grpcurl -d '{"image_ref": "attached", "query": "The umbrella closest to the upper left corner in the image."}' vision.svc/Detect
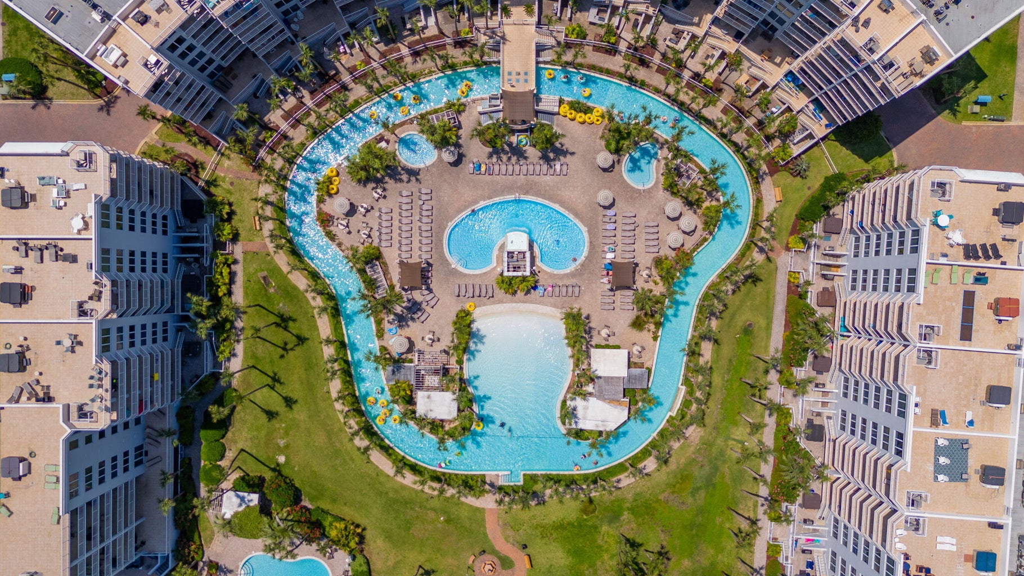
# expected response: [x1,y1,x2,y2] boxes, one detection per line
[333,197,350,214]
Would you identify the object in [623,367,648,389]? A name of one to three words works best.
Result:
shed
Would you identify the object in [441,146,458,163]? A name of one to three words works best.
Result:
umbrella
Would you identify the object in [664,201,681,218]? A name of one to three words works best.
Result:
umbrella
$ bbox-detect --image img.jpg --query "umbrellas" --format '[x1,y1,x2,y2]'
[664,201,681,218]
[678,215,696,233]
[666,231,684,249]
[441,146,458,163]
[333,197,350,214]
[596,189,614,206]
[392,335,410,353]
[596,151,613,169]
